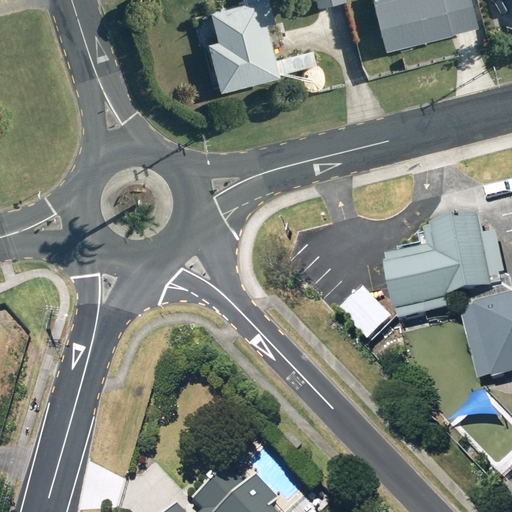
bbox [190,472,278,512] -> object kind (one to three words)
house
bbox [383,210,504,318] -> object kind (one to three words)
building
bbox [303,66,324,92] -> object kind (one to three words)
umbrella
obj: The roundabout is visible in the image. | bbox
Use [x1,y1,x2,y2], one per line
[100,167,174,240]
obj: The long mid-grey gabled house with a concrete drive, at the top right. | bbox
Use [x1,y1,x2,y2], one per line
[376,0,479,54]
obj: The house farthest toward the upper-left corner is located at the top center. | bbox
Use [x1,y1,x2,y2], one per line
[208,0,282,94]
